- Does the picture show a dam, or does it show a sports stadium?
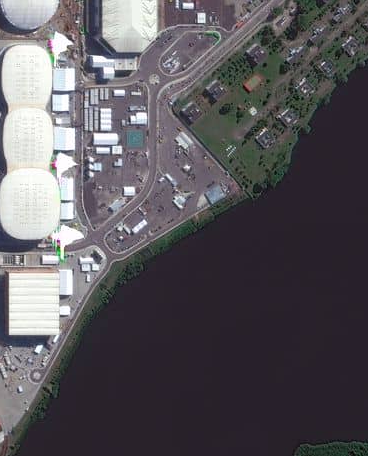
sports stadium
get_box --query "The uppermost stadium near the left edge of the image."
[0,43,54,108]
